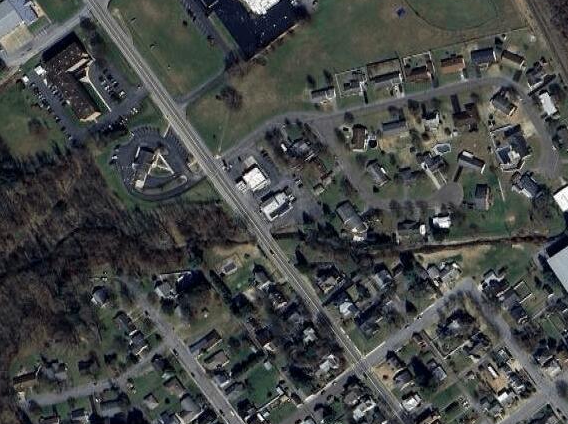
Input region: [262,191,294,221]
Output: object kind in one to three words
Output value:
building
